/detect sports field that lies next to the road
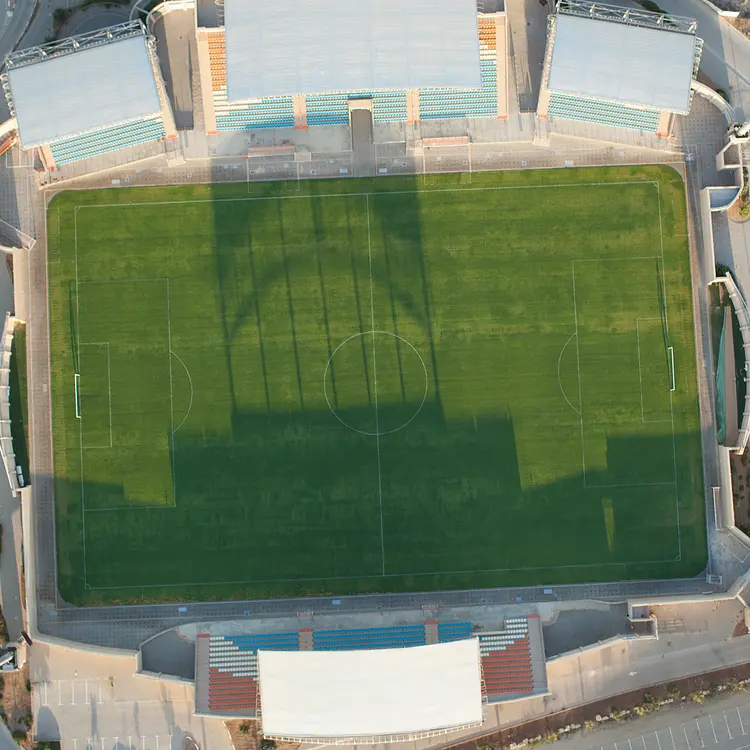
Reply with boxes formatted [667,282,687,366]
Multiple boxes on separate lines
[44,161,713,610]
